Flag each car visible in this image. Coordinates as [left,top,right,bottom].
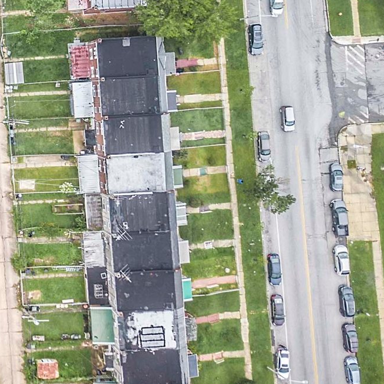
[342,353,360,384]
[337,284,354,317]
[255,129,272,162]
[278,105,296,134]
[246,23,264,55]
[267,0,285,15]
[326,161,343,194]
[265,252,282,285]
[273,345,290,377]
[339,320,359,354]
[330,243,349,276]
[268,293,285,326]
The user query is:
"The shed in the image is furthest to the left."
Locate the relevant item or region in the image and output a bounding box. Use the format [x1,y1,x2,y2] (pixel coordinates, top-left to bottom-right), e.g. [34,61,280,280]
[3,62,23,84]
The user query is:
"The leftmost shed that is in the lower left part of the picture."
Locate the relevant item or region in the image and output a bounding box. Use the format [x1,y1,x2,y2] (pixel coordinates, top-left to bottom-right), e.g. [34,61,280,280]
[36,358,58,380]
